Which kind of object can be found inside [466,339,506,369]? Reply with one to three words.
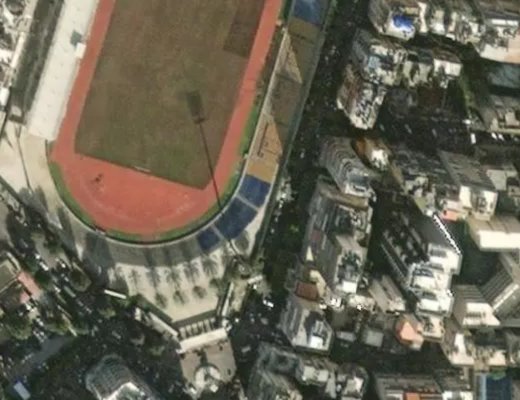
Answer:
building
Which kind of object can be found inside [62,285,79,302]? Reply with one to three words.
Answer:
vehicle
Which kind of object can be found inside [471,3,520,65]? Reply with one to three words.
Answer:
building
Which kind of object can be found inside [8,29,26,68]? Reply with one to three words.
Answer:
shed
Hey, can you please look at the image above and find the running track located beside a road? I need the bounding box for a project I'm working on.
[49,0,282,235]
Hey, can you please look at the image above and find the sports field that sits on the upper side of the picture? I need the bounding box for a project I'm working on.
[75,0,261,189]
